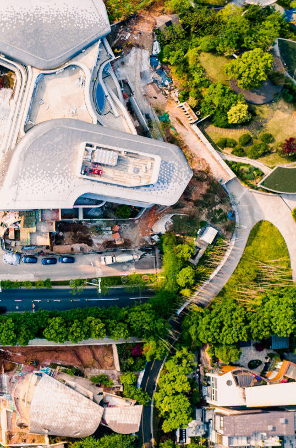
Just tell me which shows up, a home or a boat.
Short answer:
home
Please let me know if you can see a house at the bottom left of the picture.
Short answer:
Yes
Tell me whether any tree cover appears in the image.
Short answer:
Yes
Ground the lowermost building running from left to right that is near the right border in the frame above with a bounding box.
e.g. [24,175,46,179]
[204,404,295,447]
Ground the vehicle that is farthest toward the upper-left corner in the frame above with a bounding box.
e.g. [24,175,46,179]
[113,40,133,54]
